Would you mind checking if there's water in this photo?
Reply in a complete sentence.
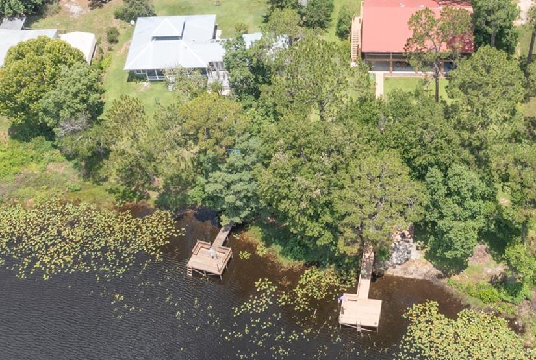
Yes, there's water in this view.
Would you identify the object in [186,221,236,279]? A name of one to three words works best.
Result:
pier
